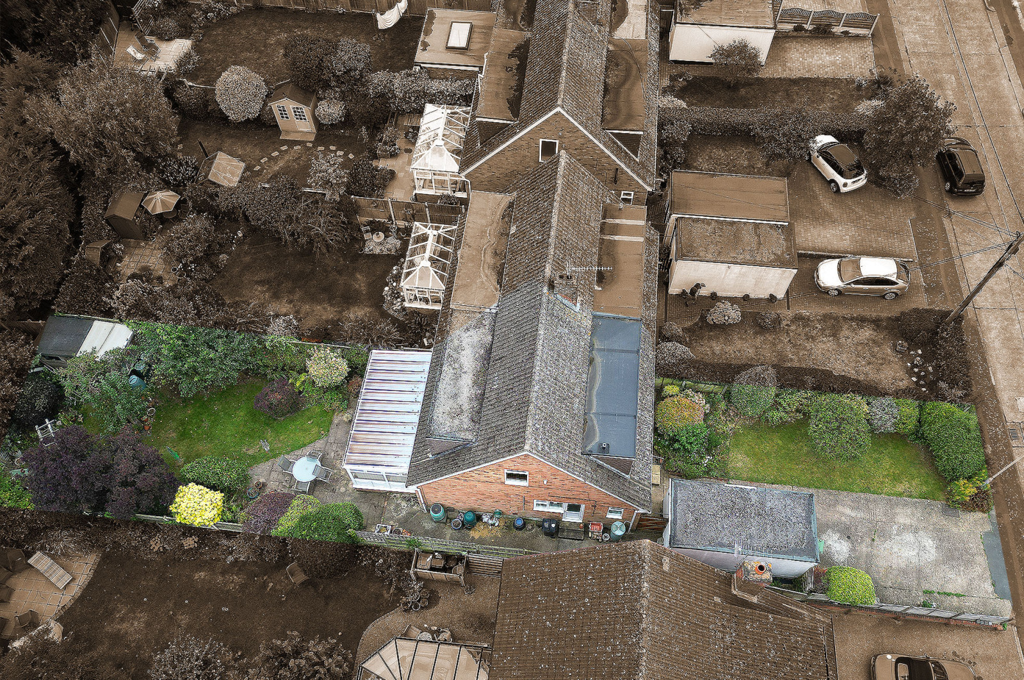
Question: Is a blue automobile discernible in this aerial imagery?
No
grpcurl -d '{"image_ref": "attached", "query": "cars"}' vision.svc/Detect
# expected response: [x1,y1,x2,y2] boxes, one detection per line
[808,138,874,198]
[864,647,985,680]
[814,254,914,305]
[939,139,990,204]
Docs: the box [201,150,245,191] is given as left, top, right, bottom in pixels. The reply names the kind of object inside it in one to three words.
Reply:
greenhouse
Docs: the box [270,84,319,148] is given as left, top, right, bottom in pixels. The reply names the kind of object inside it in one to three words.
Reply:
shed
